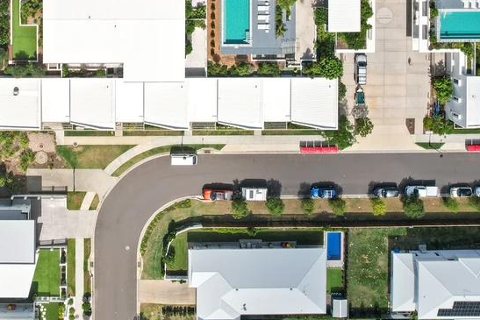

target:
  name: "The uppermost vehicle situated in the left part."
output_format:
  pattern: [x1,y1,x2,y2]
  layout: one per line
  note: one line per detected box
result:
[169,152,198,168]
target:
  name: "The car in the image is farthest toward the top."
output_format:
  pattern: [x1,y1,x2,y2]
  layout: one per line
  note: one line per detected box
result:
[353,54,369,86]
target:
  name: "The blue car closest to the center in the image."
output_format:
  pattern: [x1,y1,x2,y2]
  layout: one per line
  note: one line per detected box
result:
[311,185,338,200]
